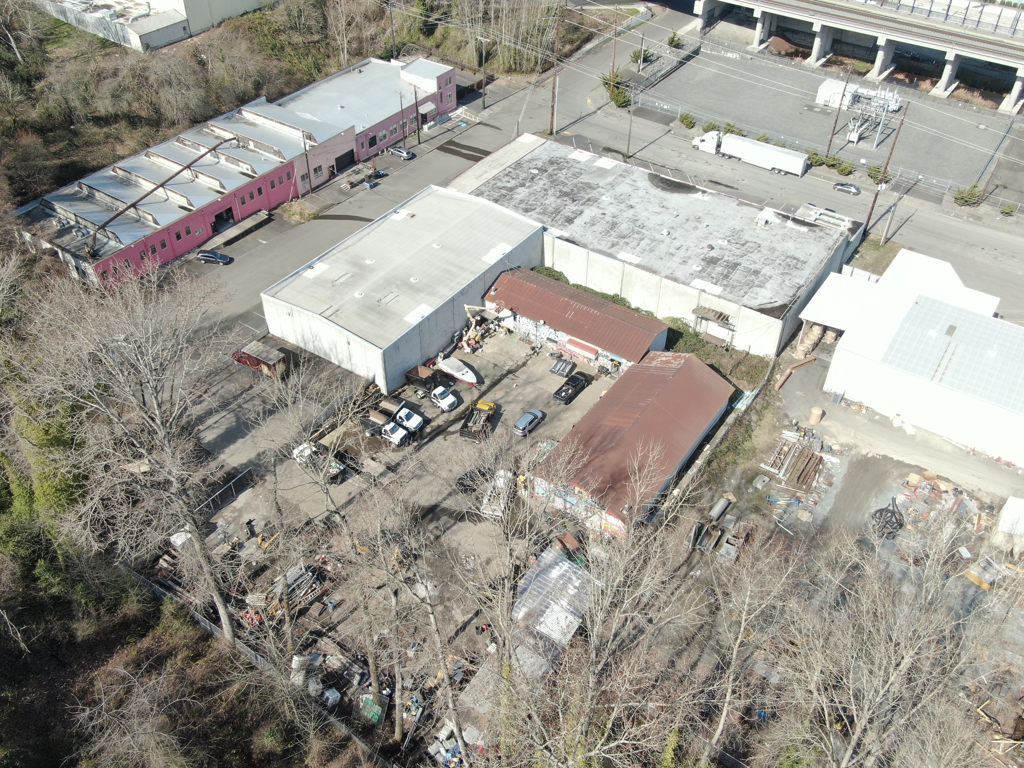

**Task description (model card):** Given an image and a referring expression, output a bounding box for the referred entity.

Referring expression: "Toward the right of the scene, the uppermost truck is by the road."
[685,129,805,176]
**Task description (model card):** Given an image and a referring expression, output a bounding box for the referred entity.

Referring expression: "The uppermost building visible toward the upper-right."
[808,74,861,112]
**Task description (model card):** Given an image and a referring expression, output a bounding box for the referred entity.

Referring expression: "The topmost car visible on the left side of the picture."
[390,145,413,159]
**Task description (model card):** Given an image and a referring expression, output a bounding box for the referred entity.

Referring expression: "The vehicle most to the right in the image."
[833,184,862,197]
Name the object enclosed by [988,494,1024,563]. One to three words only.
shed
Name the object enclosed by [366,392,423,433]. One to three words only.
truck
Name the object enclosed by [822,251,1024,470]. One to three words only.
warehouse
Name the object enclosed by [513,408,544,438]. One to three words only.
car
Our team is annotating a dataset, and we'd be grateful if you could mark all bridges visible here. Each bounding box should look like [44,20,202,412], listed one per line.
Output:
[684,0,1024,115]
